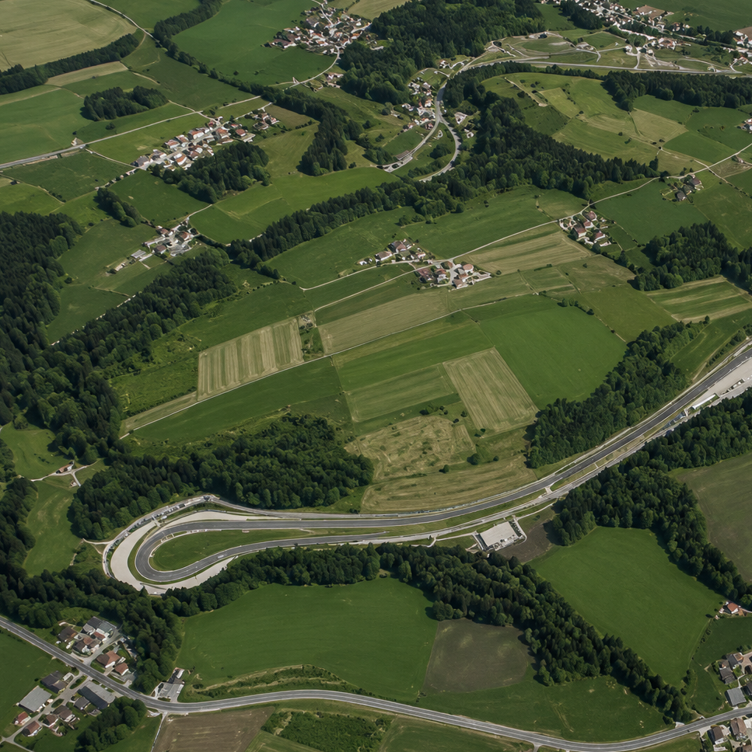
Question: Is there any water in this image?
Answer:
No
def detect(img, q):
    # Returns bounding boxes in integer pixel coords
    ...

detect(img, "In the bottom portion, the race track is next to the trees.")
[134,346,752,582]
